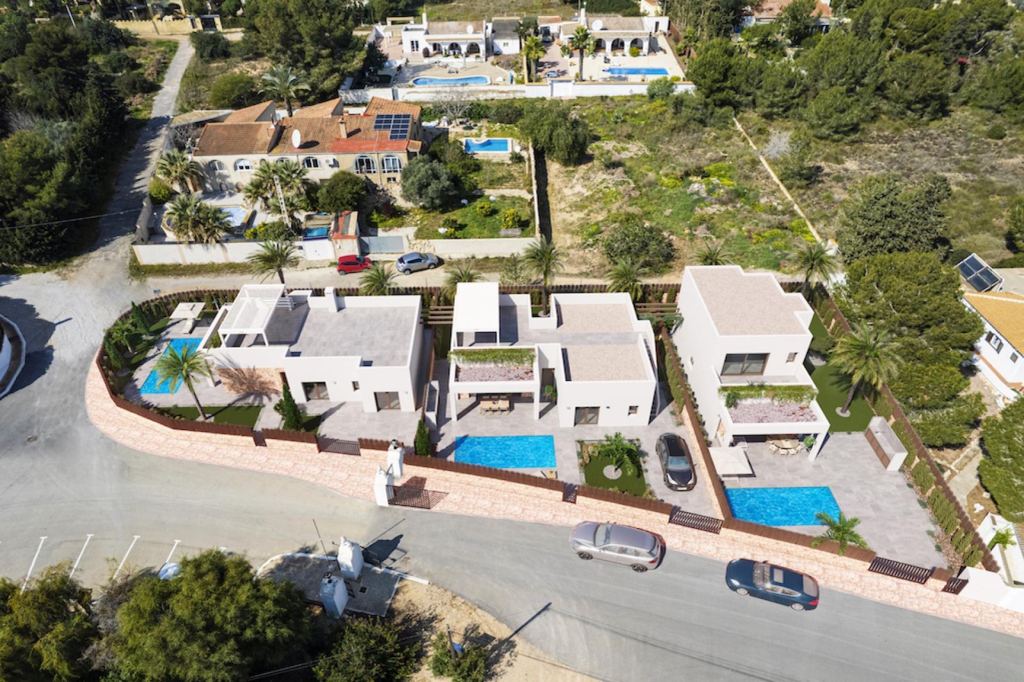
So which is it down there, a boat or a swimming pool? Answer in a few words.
swimming pool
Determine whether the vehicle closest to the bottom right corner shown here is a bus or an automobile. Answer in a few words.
automobile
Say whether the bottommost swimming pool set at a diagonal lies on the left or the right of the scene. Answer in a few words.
left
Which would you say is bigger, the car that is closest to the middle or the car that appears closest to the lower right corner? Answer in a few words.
the car that appears closest to the lower right corner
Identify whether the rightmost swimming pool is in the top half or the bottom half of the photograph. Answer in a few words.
bottom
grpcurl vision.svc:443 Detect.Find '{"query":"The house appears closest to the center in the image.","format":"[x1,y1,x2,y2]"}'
[449,283,661,427]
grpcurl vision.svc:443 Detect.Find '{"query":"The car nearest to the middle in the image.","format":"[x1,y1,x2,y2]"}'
[393,249,441,275]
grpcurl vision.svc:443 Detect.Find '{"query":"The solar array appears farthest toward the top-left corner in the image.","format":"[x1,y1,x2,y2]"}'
[369,110,406,146]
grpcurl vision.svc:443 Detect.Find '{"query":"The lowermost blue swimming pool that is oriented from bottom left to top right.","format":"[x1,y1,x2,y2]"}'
[134,336,208,396]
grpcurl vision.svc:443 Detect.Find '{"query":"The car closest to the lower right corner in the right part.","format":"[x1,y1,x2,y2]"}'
[723,551,823,611]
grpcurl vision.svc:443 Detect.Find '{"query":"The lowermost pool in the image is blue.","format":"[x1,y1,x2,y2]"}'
[720,483,847,530]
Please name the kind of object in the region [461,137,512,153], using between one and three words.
swimming pool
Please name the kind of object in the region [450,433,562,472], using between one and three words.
swimming pool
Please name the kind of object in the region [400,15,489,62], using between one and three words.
house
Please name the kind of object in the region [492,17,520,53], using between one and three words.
shed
